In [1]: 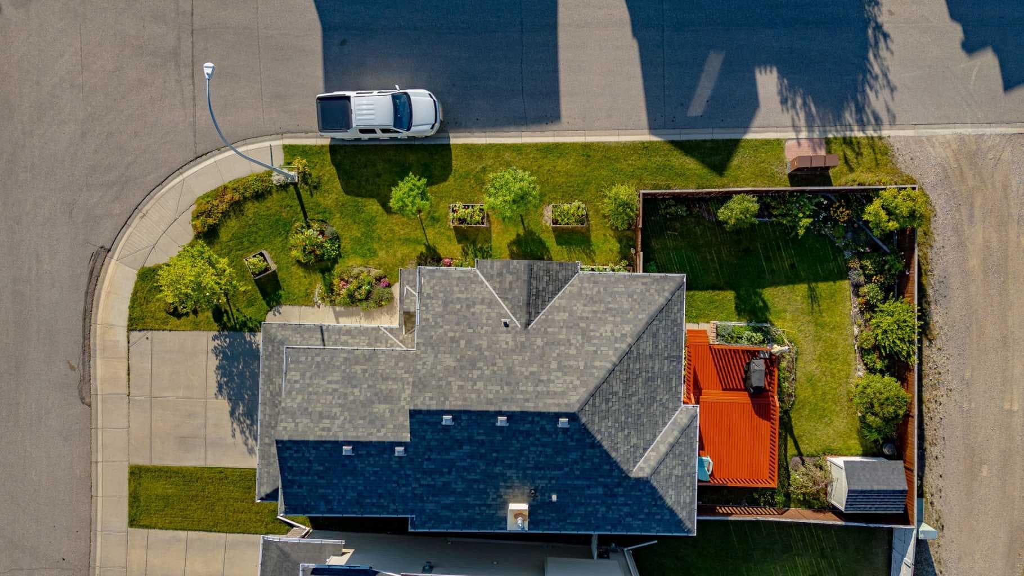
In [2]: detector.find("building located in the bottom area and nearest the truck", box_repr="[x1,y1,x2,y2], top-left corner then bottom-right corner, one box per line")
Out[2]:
[255,260,700,537]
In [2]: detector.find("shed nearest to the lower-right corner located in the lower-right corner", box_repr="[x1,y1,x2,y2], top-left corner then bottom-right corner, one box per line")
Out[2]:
[827,453,911,514]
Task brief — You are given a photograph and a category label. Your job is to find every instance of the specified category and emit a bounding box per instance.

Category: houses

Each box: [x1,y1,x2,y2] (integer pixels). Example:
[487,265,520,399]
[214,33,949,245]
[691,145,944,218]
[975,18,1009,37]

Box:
[258,531,663,576]
[255,260,700,537]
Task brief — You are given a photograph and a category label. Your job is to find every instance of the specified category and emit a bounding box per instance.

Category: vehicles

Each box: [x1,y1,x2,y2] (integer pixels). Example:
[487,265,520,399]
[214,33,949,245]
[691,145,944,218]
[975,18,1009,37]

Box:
[316,85,444,142]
